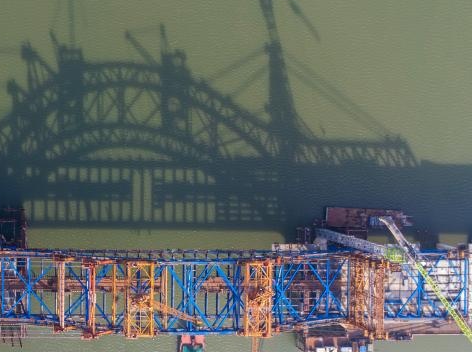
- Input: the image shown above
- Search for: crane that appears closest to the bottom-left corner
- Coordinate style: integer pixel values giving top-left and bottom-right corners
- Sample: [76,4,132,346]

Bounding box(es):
[120,256,198,335]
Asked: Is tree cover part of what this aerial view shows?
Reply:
No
